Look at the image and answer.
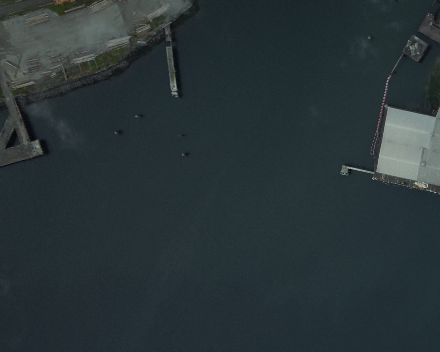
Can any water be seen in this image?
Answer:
Yes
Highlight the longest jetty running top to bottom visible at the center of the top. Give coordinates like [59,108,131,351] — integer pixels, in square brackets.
[165,24,182,91]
